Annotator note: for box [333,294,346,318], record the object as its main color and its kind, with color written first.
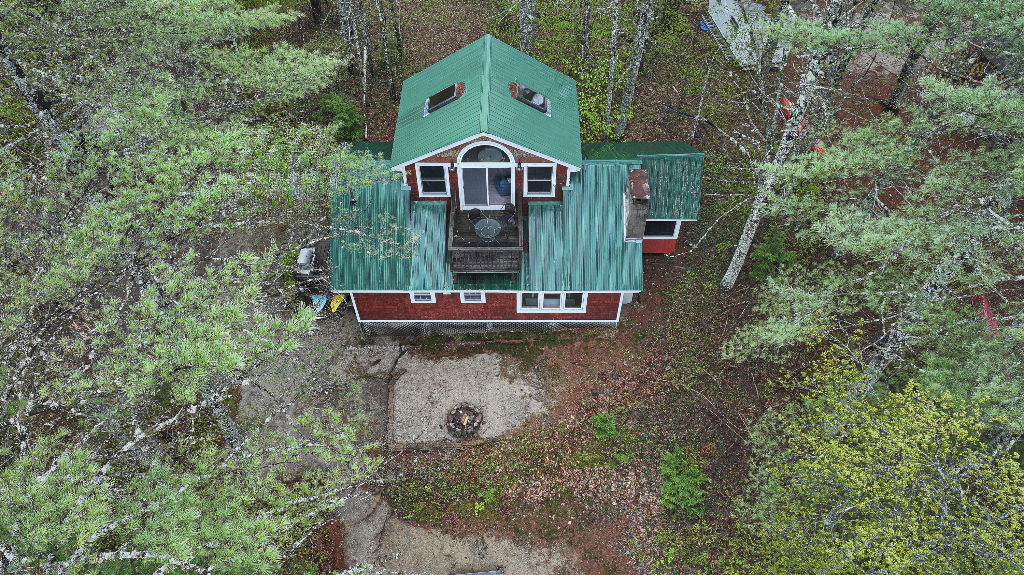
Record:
yellow boat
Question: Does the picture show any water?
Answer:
No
